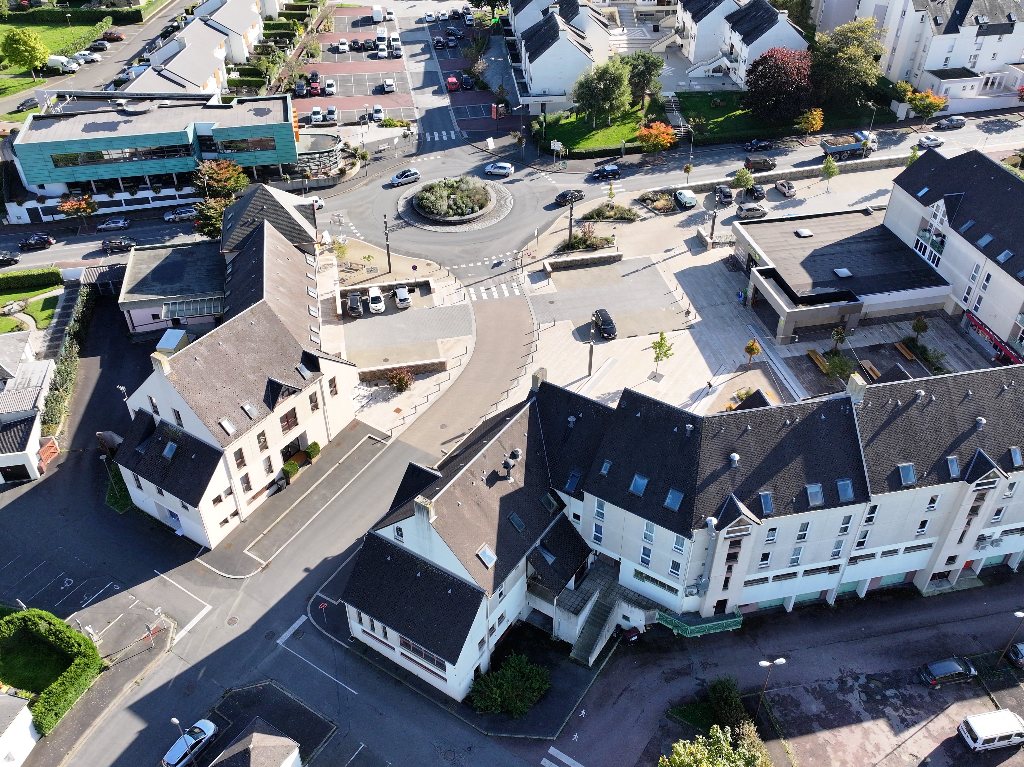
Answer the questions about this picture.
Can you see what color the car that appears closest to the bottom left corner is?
blue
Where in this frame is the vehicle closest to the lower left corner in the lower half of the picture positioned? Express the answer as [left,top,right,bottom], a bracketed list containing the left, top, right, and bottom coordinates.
[156,714,221,767]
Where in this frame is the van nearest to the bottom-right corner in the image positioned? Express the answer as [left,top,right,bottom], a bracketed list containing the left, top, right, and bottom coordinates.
[962,704,1024,746]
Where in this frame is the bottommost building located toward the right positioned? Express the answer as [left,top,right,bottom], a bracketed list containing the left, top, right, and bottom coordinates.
[341,362,1024,700]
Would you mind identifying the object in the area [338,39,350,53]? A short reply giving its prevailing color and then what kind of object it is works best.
white vehicle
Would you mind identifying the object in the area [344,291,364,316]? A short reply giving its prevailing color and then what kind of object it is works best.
gray car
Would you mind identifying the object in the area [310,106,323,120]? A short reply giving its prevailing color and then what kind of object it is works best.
white vehicle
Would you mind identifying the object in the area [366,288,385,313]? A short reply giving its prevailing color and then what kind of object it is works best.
white car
